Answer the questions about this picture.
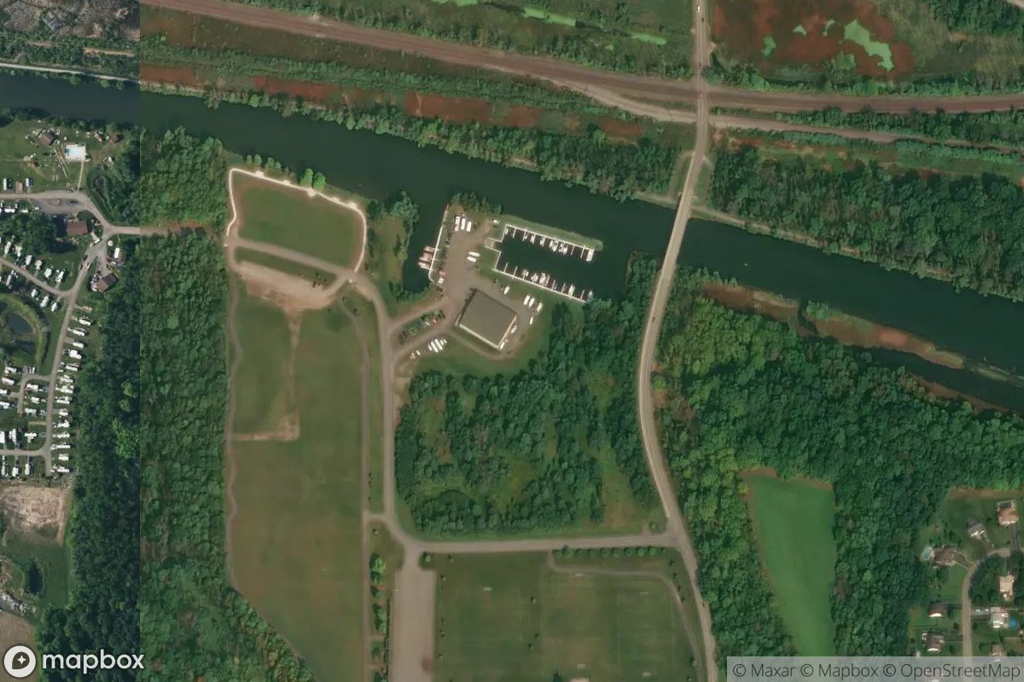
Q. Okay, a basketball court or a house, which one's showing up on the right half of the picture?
house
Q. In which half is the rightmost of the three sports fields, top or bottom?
bottom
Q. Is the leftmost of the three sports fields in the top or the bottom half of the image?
bottom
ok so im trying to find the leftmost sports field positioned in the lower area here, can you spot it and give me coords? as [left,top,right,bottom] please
[462,590,517,682]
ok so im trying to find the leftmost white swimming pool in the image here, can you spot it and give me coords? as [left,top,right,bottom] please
[65,144,86,161]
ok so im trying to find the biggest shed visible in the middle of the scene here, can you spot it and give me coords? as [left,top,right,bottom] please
[460,289,517,350]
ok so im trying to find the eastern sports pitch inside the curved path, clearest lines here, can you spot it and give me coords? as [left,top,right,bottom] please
[619,594,673,677]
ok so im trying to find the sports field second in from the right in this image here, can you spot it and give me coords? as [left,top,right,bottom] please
[555,577,604,667]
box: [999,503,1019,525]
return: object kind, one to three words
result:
house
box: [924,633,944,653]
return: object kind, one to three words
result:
house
